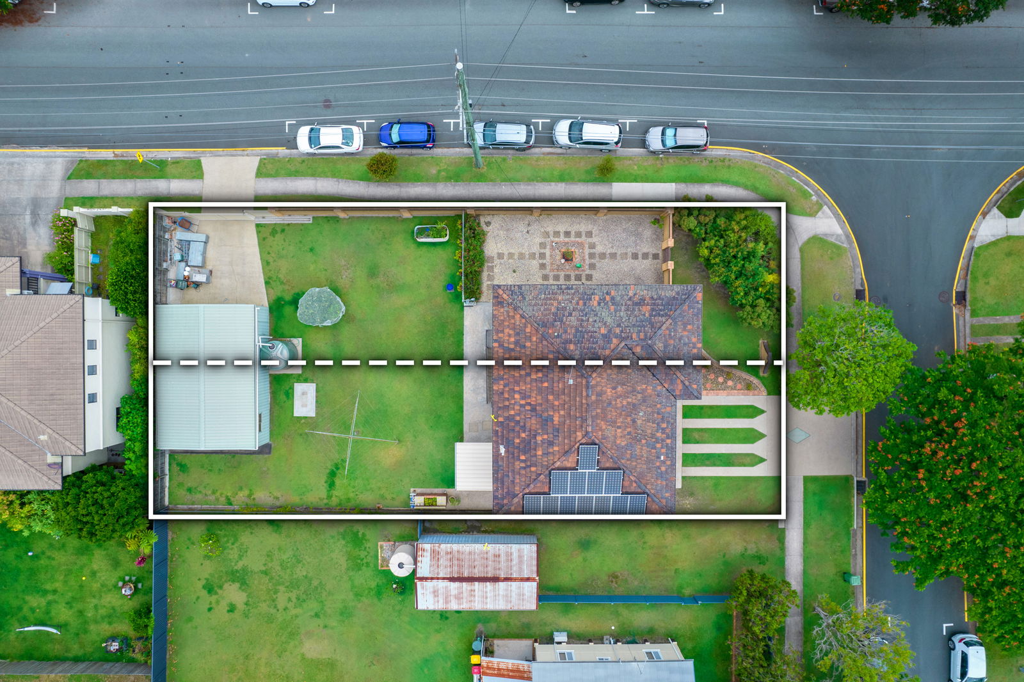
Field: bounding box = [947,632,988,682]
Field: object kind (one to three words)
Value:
car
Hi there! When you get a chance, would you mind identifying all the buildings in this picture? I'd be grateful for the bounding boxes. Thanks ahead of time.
[155,302,269,452]
[0,255,125,491]
[532,640,694,682]
[487,283,704,523]
[414,535,539,611]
